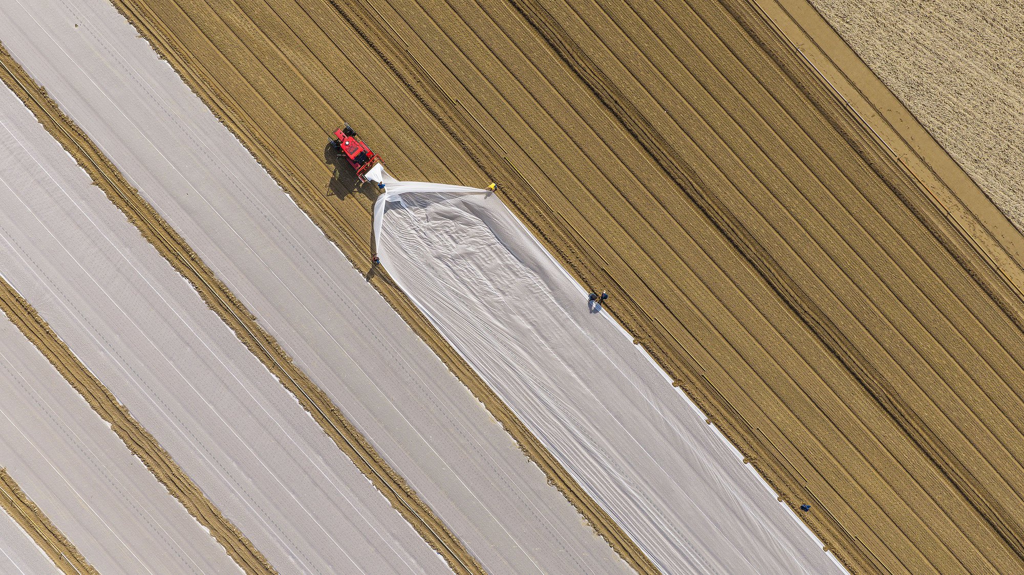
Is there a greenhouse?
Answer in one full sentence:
No, the picture doesn't show any greenhouse.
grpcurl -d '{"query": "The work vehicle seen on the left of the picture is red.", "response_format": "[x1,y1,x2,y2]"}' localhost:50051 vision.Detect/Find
[328,122,386,182]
